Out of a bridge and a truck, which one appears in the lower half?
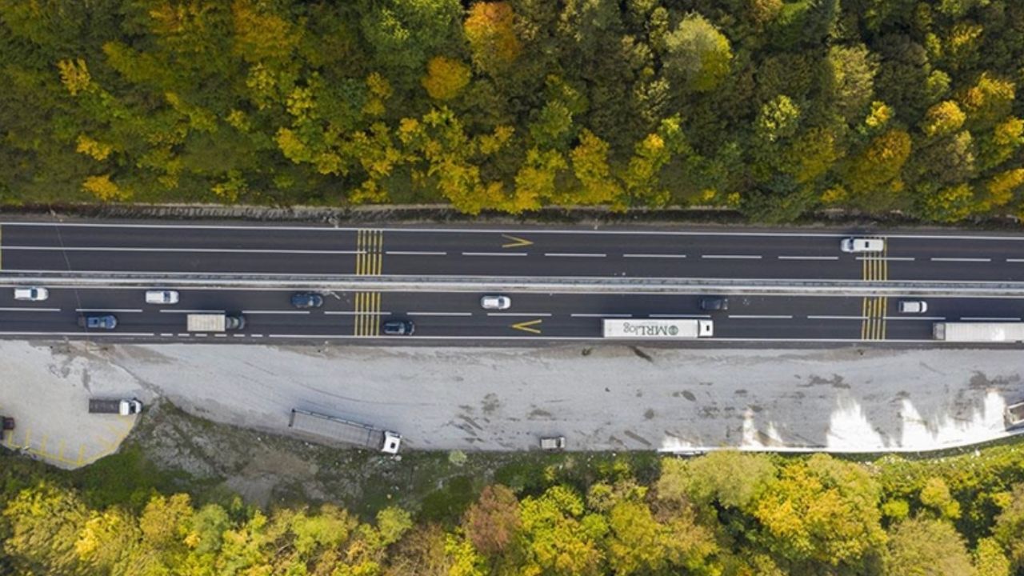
truck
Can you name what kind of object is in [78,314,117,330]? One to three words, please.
vehicle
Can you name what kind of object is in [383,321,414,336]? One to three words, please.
car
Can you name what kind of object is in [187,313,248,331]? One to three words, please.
vehicle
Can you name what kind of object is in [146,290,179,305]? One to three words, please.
car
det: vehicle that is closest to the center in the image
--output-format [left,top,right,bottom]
[481,295,511,310]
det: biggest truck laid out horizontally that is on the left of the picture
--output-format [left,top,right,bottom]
[289,409,402,456]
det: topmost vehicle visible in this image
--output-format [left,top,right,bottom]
[839,238,883,254]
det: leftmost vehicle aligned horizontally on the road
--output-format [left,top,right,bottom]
[17,287,49,302]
